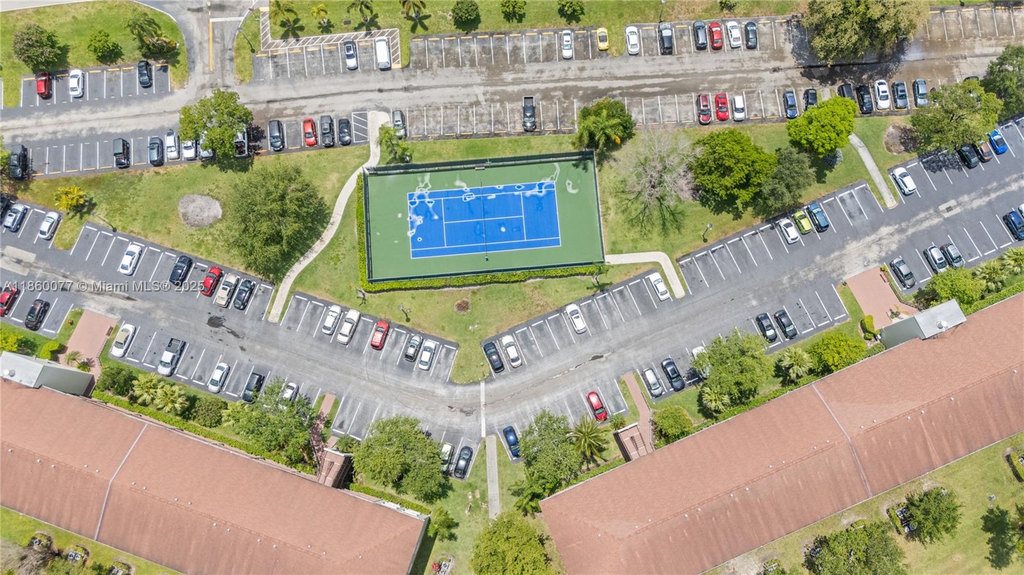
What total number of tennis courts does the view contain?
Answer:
1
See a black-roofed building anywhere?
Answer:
No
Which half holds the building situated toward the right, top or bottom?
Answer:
bottom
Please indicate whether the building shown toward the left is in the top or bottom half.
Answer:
bottom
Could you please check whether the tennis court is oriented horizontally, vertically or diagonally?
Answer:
horizontally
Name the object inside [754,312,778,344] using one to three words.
car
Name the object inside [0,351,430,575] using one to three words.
building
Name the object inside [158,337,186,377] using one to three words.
truck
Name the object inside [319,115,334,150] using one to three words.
vehicle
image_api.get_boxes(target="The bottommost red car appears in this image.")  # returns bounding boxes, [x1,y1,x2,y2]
[586,389,609,423]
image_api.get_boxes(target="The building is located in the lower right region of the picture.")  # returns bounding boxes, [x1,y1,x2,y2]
[538,289,1024,575]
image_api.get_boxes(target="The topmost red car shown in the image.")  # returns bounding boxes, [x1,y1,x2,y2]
[708,24,722,50]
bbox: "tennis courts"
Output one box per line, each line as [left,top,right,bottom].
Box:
[368,161,600,280]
